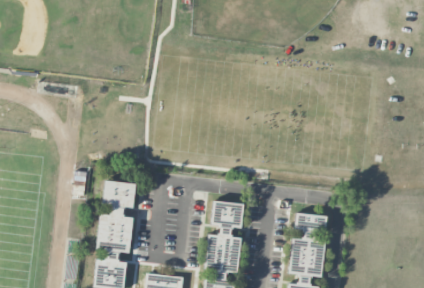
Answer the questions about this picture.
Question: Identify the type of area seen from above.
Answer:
sports ground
